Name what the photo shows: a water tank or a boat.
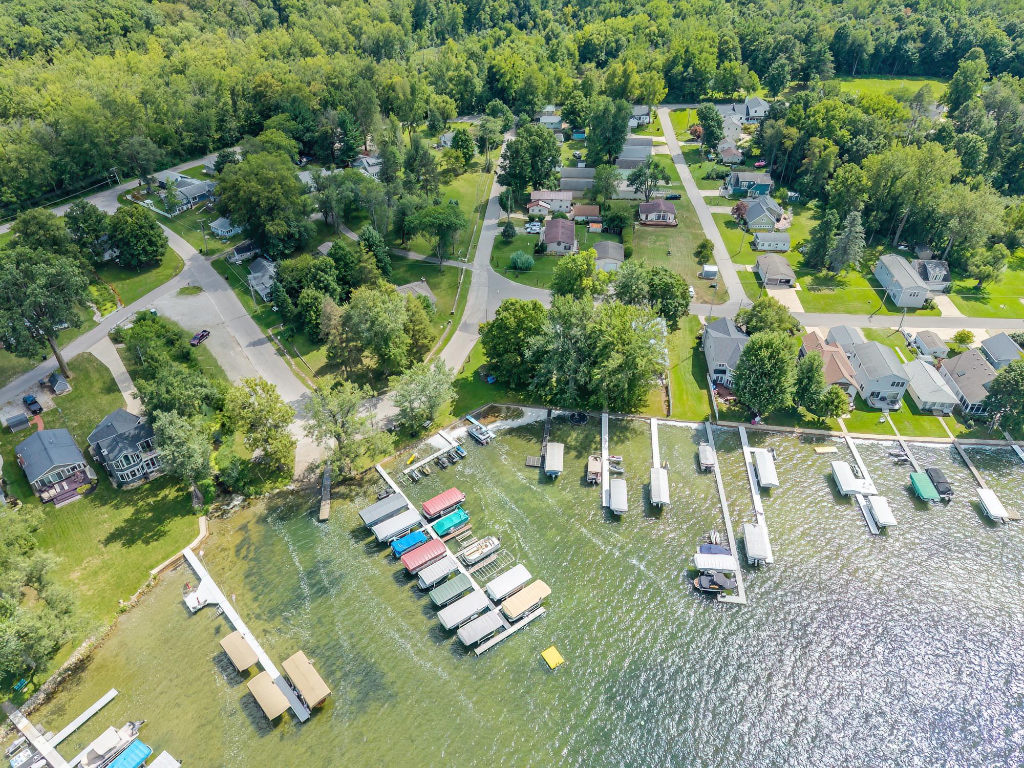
boat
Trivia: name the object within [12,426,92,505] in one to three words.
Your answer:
house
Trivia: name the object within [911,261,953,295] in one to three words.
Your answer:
building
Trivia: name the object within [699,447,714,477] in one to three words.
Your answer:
boat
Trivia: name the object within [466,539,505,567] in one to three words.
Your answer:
boat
